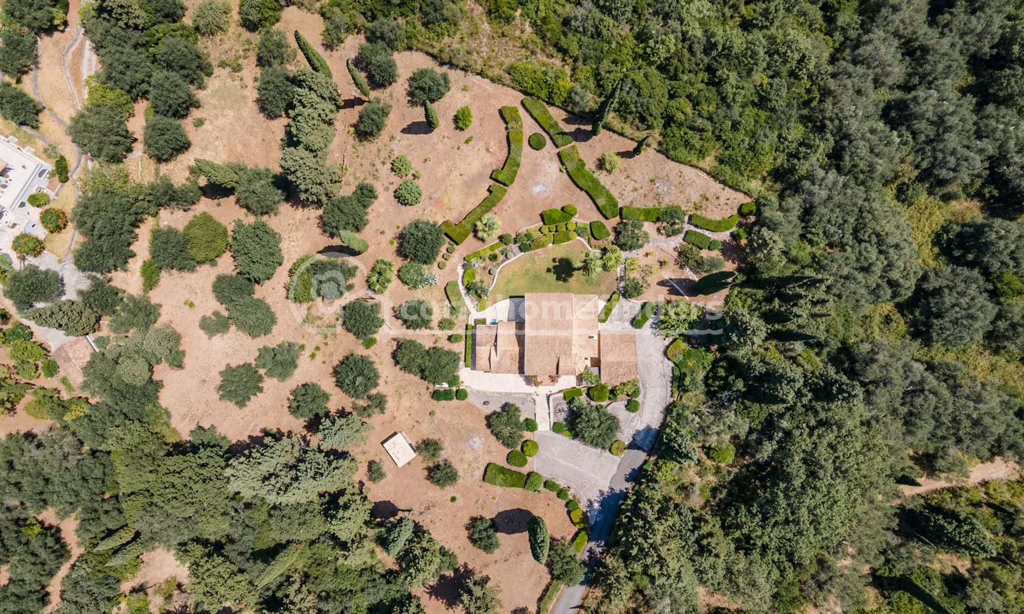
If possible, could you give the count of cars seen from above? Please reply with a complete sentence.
Not a single car can be seen.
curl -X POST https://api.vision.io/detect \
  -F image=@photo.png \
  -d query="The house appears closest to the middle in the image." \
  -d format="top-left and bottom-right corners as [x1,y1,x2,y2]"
[476,293,600,386]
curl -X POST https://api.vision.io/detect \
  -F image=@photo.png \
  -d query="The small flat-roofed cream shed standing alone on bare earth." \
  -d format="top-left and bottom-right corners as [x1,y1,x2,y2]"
[383,431,418,467]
